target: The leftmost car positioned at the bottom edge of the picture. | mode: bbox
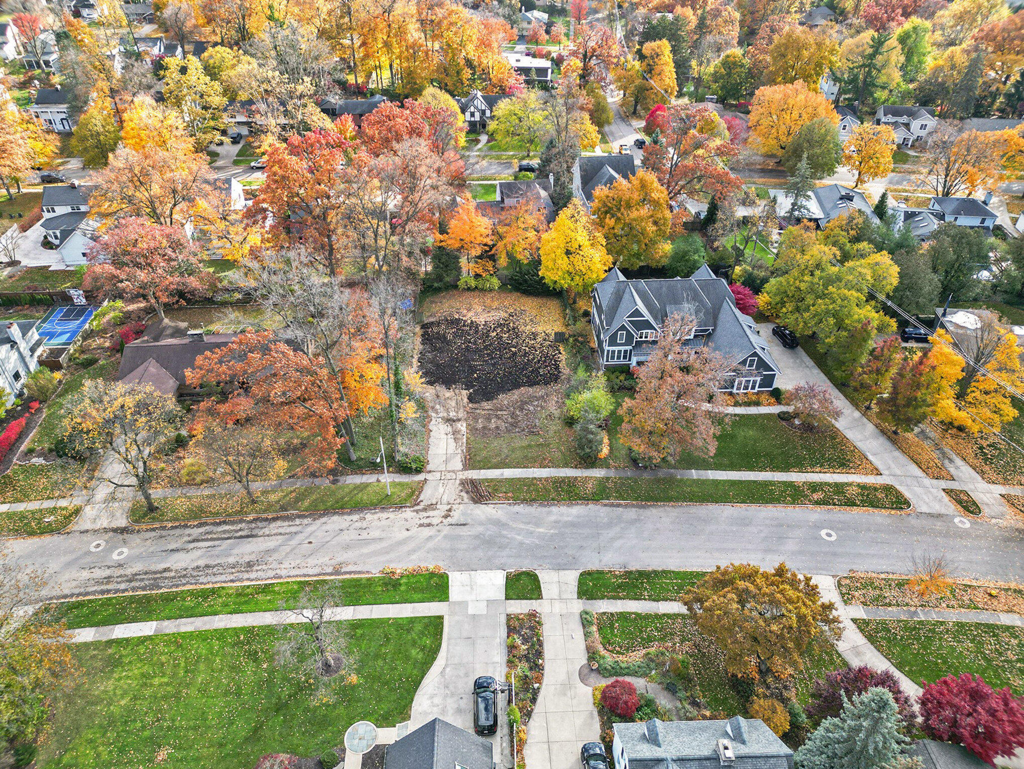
[470,676,501,737]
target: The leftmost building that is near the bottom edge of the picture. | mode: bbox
[394,715,497,769]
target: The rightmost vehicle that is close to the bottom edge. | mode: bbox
[582,738,614,769]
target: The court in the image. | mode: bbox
[42,303,100,351]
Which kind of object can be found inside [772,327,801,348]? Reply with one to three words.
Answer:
car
